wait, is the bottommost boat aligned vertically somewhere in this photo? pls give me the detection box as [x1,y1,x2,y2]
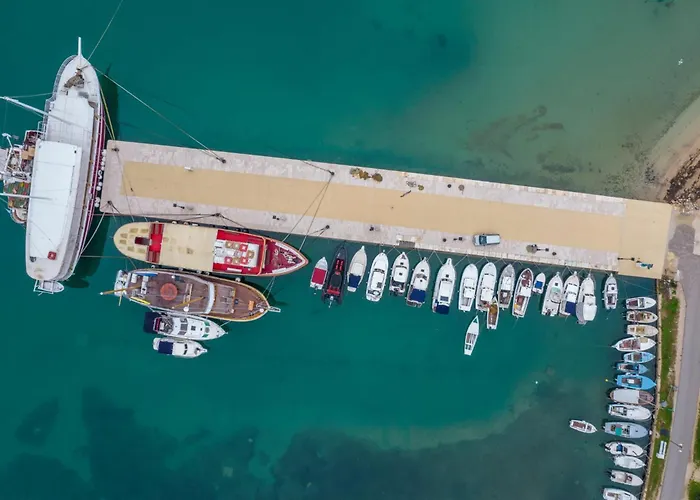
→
[464,316,480,355]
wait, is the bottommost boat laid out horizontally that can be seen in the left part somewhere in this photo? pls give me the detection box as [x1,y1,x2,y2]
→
[152,336,209,357]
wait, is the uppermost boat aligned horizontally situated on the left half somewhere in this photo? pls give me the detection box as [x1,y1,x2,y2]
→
[114,220,308,276]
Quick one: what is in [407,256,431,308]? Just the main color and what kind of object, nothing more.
white boat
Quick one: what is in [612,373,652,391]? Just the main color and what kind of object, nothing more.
blue boat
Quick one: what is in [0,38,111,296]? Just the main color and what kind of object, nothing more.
white ship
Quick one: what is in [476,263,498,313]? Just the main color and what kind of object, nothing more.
white boat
